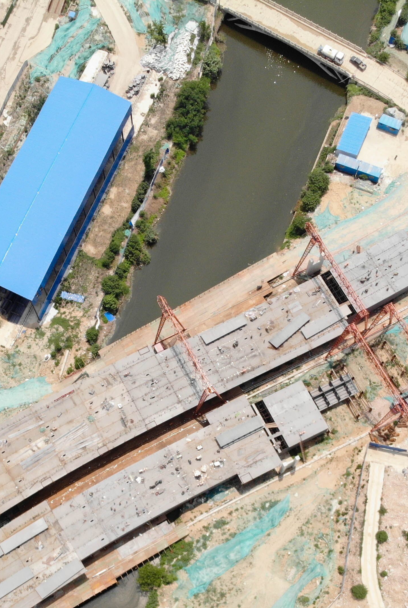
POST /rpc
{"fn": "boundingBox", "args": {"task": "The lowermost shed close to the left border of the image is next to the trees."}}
[0,75,139,346]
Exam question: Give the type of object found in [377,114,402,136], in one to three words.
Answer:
building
